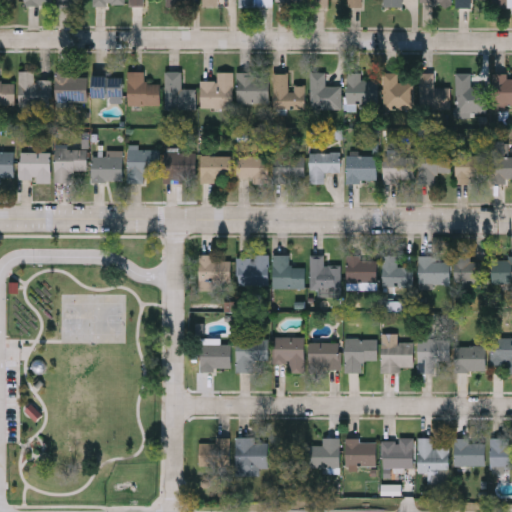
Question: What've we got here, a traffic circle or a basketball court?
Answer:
basketball court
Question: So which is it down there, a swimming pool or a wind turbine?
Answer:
swimming pool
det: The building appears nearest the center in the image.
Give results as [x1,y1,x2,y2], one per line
[236,256,269,286]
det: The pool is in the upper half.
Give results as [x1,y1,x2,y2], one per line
[99,104,124,122]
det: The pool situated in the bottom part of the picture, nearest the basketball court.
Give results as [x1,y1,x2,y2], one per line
[205,318,231,338]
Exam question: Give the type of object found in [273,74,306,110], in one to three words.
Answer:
house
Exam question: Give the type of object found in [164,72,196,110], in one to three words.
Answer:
house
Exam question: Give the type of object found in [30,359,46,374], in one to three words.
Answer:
gazebo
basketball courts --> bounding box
[62,294,126,344]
